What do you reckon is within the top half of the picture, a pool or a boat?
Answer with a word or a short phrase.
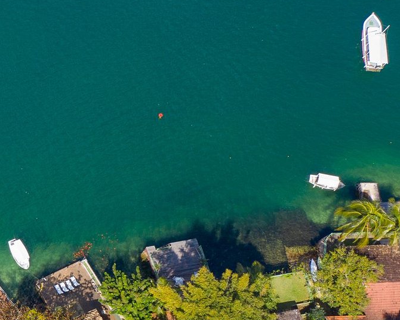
boat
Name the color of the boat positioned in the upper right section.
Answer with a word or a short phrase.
white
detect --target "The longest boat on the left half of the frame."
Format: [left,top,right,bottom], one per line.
[8,237,28,268]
